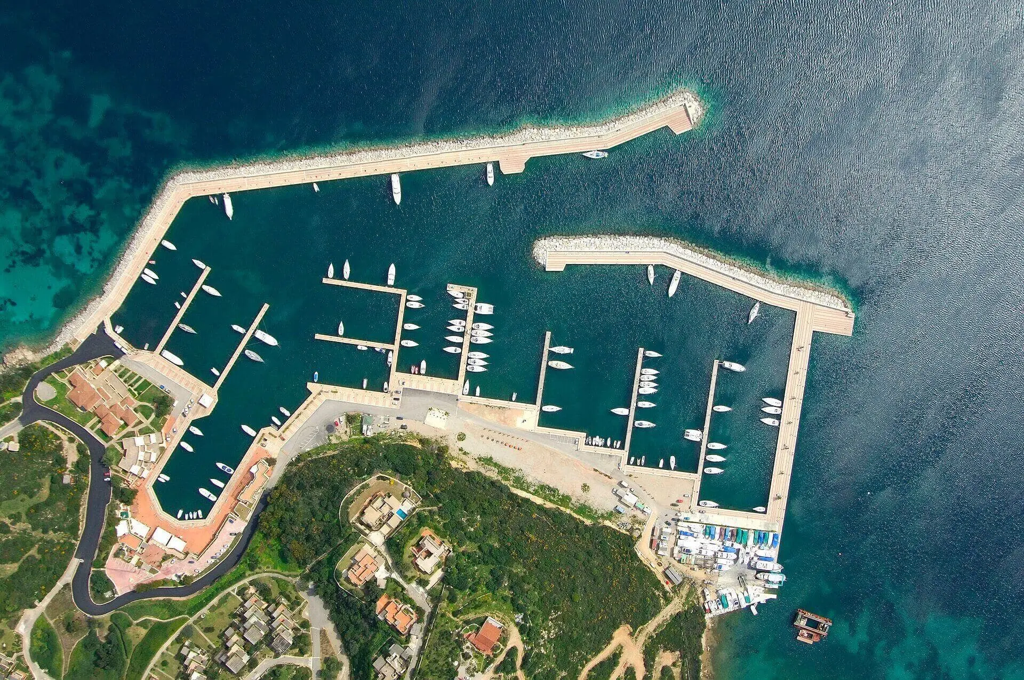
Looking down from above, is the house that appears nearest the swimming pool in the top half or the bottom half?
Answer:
bottom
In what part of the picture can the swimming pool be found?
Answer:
bottom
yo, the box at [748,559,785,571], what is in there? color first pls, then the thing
white boat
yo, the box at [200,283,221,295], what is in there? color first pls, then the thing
white boat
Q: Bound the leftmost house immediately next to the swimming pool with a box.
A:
[361,491,402,535]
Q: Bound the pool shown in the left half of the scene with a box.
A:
[396,498,416,519]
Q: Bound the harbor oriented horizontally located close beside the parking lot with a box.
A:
[104,317,775,526]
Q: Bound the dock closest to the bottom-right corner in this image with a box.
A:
[747,581,780,615]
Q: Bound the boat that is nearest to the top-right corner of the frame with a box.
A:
[749,301,763,323]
